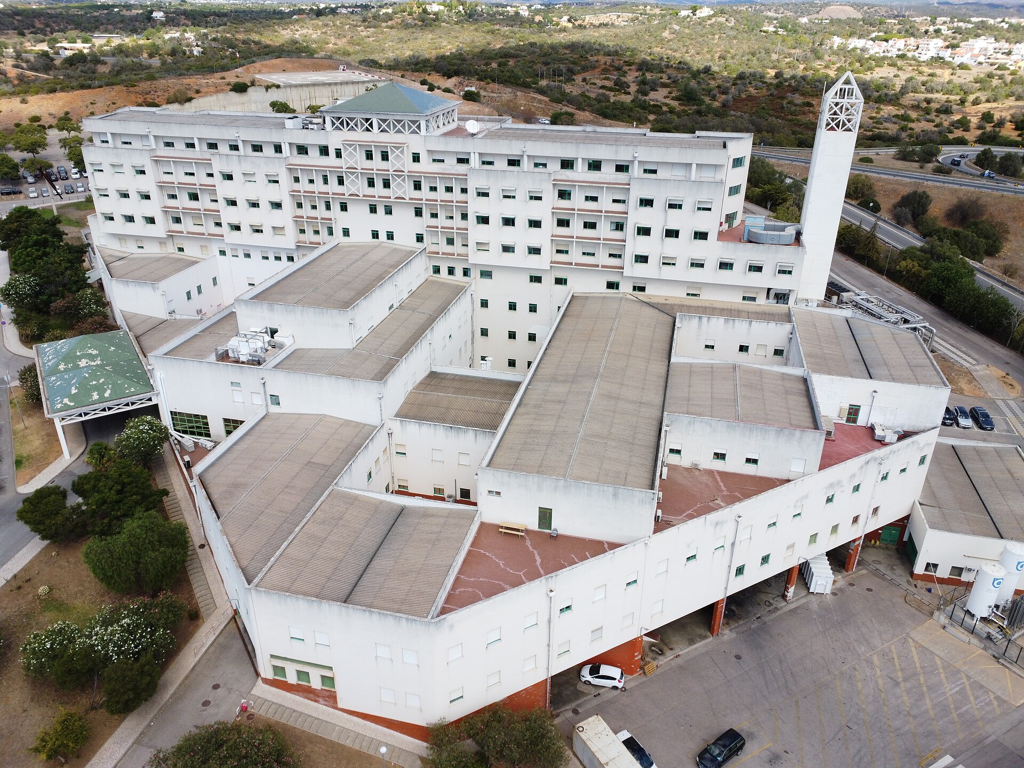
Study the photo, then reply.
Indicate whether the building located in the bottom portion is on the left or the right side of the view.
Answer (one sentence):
You can find the building located in the bottom portion on the right side of the picture.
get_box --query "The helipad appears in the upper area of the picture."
[255,70,396,87]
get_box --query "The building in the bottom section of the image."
[905,438,1024,588]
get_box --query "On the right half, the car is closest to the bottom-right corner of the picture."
[695,721,748,768]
